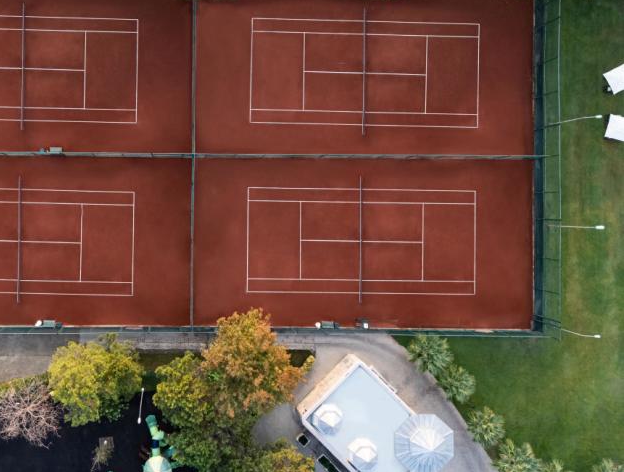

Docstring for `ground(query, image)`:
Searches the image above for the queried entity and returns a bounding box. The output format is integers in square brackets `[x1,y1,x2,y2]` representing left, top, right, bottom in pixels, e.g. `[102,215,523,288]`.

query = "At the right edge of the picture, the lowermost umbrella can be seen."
[599,113,624,143]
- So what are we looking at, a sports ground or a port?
sports ground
